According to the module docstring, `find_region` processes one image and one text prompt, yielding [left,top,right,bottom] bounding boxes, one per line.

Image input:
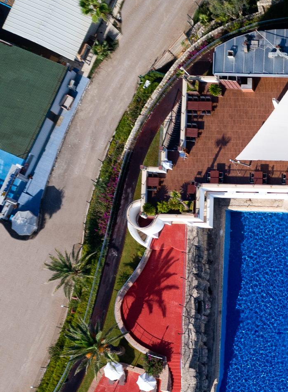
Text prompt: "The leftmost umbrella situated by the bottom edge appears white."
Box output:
[104,360,124,380]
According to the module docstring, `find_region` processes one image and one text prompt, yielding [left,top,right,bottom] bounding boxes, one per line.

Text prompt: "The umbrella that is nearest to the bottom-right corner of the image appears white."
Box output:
[137,373,157,392]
